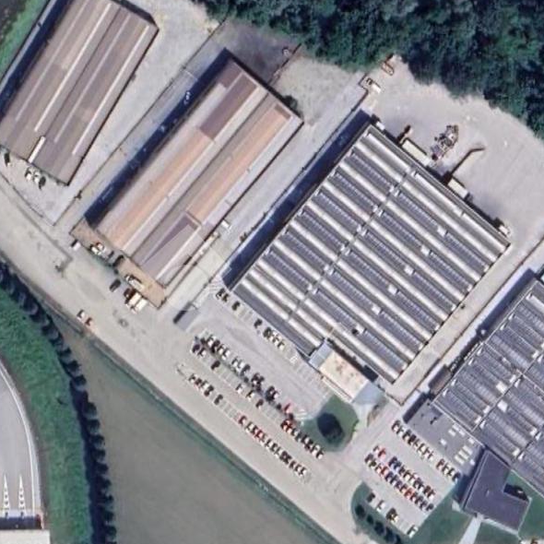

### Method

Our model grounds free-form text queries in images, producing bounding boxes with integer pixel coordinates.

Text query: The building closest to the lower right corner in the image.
[462,449,529,536]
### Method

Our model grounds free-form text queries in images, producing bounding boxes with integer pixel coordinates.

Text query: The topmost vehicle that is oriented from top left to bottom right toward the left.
[125,275,143,289]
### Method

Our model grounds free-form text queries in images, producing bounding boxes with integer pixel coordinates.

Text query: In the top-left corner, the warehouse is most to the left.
[0,0,160,184]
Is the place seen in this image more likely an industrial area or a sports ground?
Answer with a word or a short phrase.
industrial area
